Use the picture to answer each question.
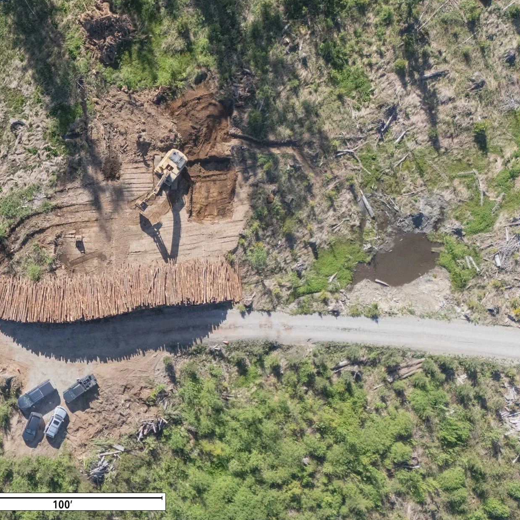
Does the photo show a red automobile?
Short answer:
No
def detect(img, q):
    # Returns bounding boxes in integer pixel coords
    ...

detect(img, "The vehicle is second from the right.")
[62,372,100,403]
